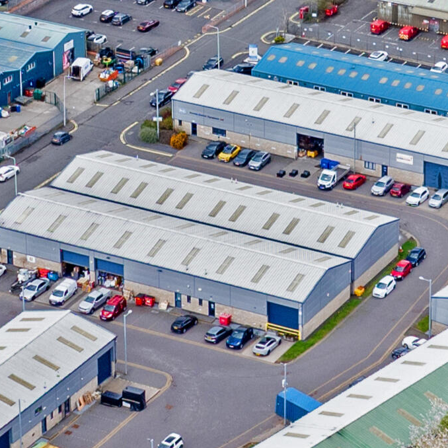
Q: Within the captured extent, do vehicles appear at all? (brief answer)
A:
Yes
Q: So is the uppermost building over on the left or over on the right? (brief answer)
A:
right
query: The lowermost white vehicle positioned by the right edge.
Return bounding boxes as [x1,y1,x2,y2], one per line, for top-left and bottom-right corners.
[398,335,426,349]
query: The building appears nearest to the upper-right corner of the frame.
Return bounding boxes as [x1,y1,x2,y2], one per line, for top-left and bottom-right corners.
[375,0,448,31]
